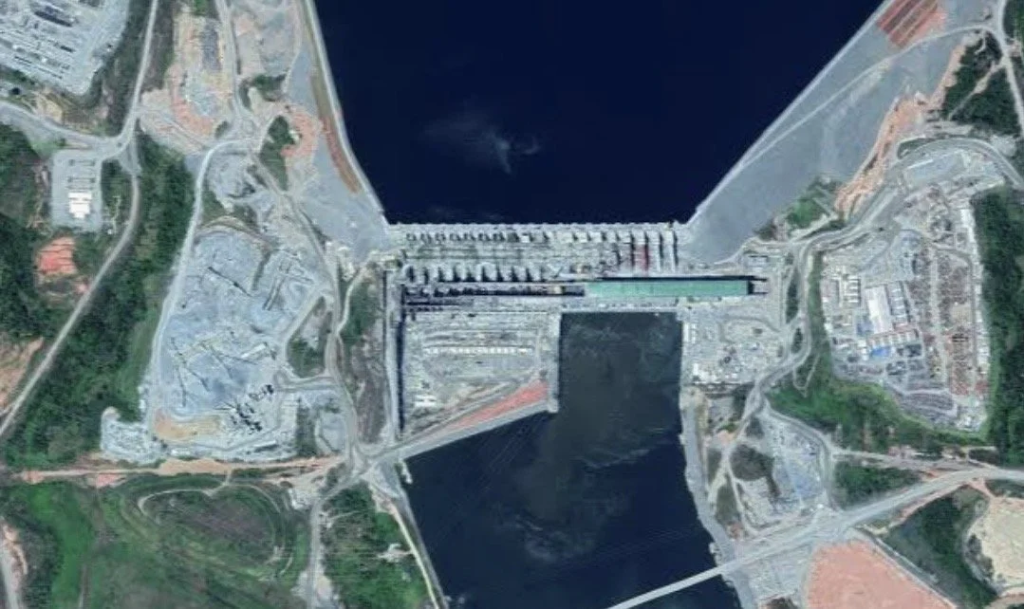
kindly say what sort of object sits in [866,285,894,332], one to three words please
building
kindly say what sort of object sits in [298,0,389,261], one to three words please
dam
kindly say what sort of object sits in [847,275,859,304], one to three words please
building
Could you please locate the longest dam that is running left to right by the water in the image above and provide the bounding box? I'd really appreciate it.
[387,223,689,285]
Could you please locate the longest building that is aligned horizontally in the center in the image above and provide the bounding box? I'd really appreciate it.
[400,279,770,314]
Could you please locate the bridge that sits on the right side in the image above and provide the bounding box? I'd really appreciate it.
[605,558,739,609]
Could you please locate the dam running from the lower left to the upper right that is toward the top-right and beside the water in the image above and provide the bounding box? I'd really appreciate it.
[687,0,928,267]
